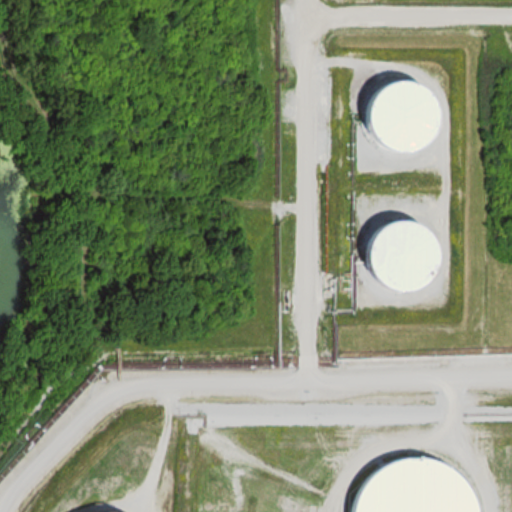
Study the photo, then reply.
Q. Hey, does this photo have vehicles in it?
No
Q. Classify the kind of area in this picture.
industrial area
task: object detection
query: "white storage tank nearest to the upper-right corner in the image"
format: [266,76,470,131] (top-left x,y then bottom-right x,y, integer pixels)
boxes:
[364,79,444,155]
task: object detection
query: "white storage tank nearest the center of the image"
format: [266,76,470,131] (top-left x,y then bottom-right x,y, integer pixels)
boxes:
[364,218,444,294]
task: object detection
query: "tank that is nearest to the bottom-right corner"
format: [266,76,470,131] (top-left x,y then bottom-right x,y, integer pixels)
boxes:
[352,456,480,512]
